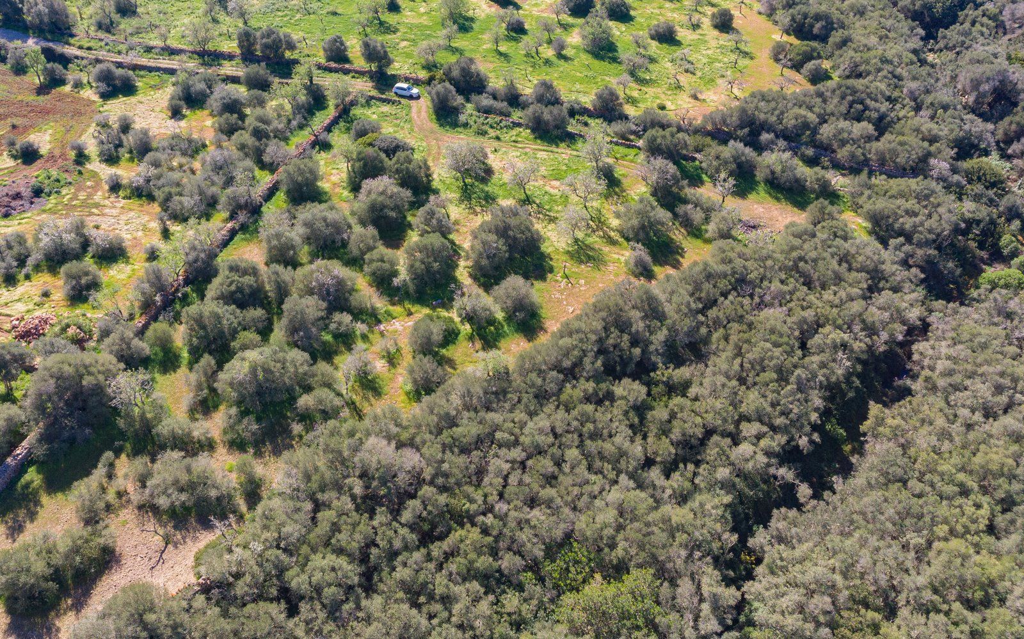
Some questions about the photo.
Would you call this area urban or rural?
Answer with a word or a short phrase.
rural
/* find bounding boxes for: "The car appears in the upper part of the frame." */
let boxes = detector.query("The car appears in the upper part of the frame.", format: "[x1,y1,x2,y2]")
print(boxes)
[391,80,419,97]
